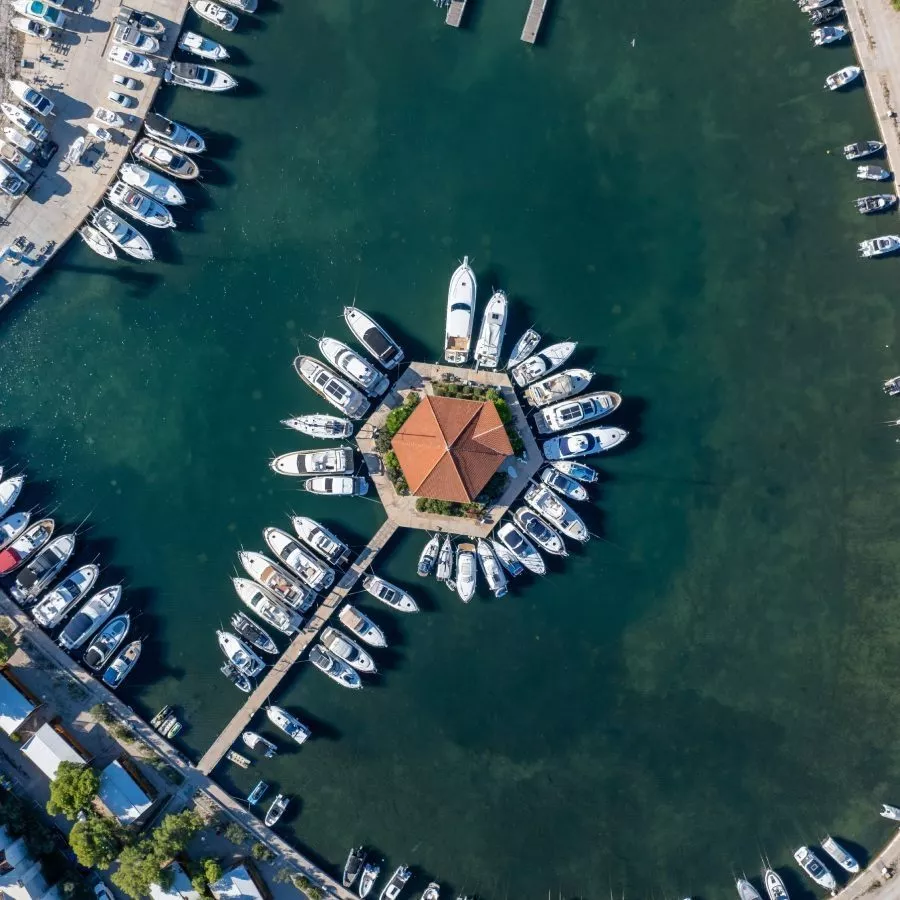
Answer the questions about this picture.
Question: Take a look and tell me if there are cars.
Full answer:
Yes, the picture does show a car.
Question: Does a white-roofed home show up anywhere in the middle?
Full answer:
No, in the middle there is no white-roofed home.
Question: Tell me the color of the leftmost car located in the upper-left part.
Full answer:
The color of the leftmost car located in the upper-left part is black.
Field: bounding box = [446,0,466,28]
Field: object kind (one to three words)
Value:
pier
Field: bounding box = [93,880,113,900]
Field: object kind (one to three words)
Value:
car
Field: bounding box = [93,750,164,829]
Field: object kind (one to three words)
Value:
house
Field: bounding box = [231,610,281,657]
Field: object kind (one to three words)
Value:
boat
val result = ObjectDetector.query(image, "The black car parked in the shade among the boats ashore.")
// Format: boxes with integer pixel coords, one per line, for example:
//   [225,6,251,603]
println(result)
[36,140,60,166]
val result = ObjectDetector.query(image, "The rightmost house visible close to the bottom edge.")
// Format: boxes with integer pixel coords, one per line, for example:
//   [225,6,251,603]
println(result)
[208,852,291,900]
